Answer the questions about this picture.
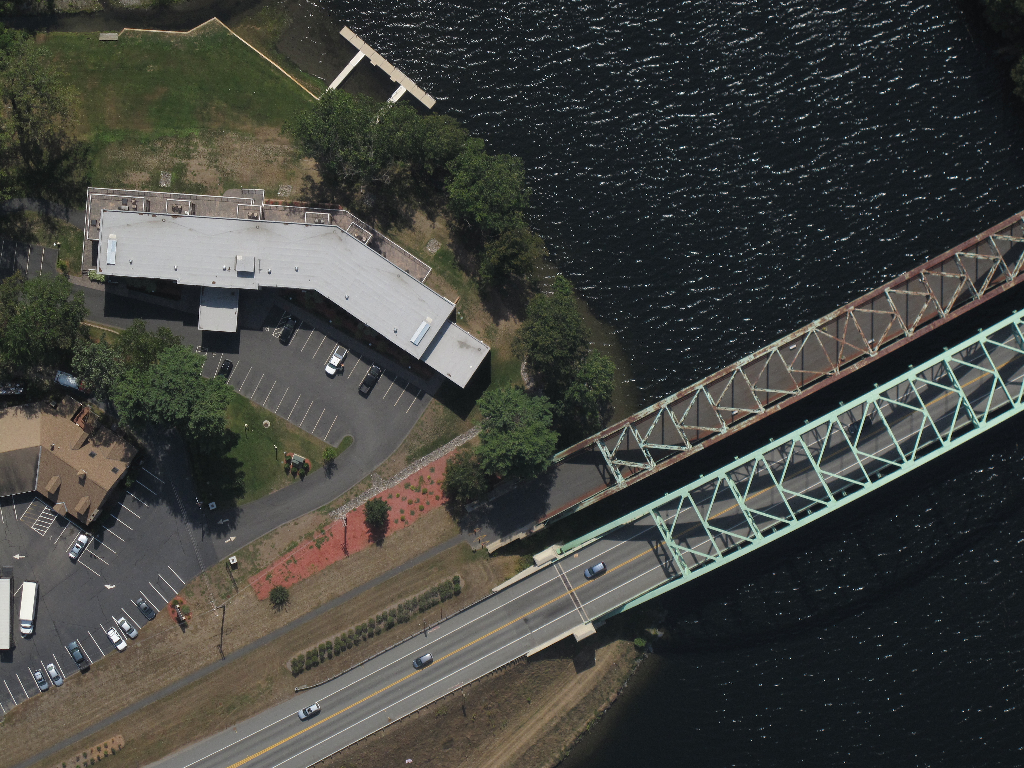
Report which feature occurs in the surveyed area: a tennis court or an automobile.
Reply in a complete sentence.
Of the two, only an automobile appears.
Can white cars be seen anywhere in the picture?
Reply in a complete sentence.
Yes, you can see a white car in this photo.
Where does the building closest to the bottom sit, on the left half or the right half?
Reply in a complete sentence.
The building closest to the bottom sits on the left side.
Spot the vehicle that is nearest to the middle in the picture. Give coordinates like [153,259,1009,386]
[359,364,381,394]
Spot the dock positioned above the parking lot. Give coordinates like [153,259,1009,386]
[328,26,436,109]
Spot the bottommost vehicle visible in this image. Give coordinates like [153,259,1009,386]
[297,702,322,721]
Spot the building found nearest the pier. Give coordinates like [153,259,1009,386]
[97,209,490,384]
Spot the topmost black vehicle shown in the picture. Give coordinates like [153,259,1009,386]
[279,316,298,343]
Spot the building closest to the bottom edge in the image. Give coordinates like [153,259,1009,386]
[0,396,139,525]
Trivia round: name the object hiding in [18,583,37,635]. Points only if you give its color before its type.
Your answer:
white vehicle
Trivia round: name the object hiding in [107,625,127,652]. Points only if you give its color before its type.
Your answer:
white car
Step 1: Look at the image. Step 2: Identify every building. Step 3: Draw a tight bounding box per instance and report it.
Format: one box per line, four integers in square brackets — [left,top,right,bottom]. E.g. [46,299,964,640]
[97,209,490,384]
[0,396,139,525]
